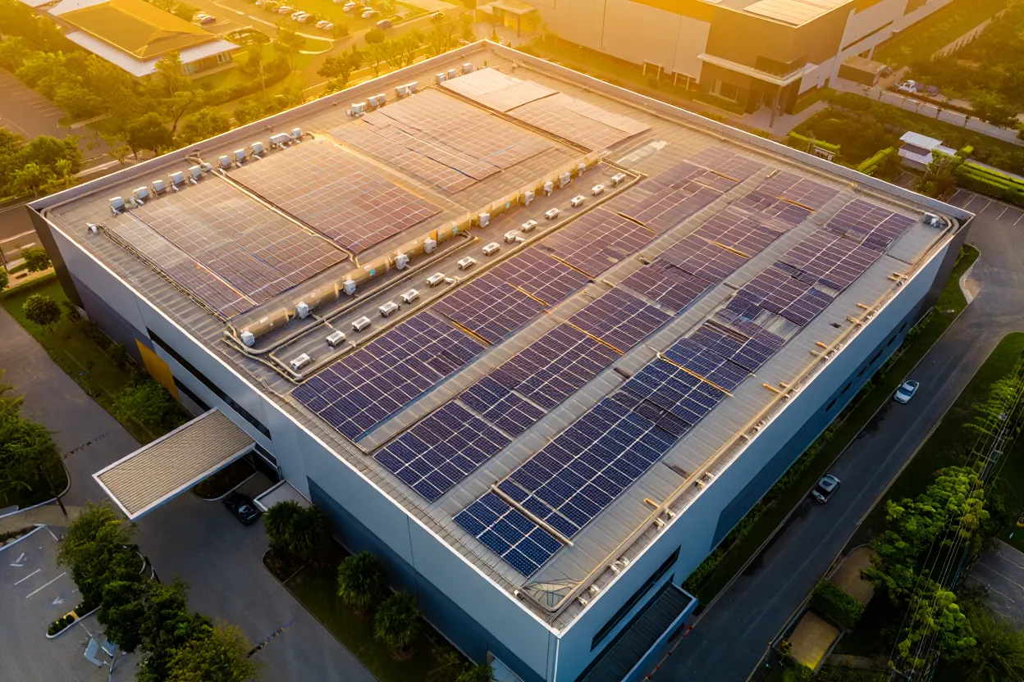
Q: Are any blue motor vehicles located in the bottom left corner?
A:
No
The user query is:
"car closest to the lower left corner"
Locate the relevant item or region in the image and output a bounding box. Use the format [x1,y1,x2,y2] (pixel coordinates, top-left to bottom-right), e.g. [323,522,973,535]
[217,493,263,531]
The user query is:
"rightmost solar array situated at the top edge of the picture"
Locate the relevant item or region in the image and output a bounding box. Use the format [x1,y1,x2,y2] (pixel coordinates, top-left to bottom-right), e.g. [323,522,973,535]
[744,0,838,25]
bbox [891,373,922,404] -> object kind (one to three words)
car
